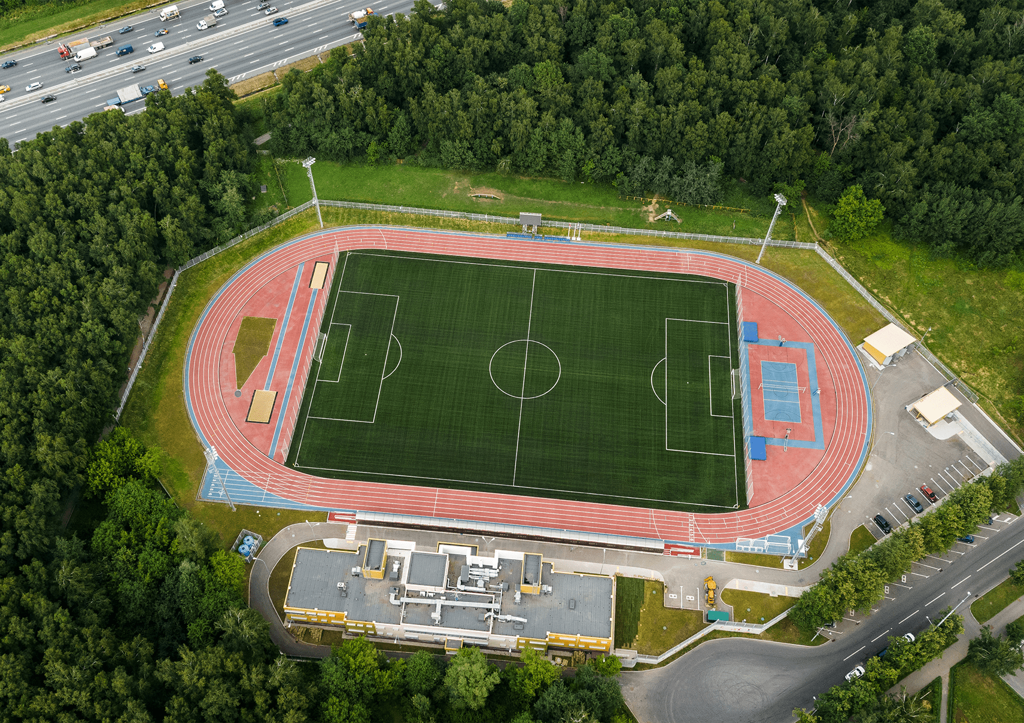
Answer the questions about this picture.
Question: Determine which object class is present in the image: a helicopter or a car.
car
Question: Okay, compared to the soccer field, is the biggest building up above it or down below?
below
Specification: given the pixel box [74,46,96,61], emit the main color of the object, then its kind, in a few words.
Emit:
white vehicle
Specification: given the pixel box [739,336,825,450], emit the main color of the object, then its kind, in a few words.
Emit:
blue sports court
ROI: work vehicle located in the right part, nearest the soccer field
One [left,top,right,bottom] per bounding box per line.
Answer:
[705,576,719,610]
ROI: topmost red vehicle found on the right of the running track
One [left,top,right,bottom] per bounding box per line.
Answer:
[920,484,938,501]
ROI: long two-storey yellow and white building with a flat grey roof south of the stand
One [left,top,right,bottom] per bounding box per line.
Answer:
[283,538,614,662]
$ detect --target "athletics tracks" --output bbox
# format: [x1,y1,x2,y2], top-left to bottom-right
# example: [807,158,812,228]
[181,224,874,558]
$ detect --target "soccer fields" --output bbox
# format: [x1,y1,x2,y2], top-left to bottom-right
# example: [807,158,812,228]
[284,249,748,513]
